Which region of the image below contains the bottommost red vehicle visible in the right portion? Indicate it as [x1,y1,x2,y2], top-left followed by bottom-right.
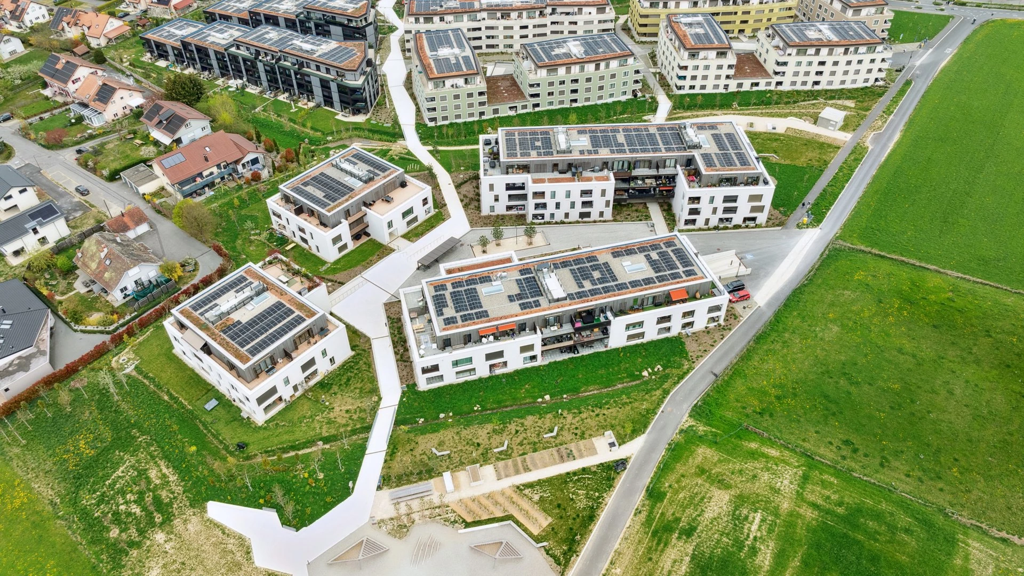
[729,288,753,303]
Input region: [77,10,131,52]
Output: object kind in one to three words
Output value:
house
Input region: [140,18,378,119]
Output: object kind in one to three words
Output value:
building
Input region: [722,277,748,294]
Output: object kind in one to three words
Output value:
car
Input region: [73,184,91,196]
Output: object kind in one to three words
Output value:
vehicle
